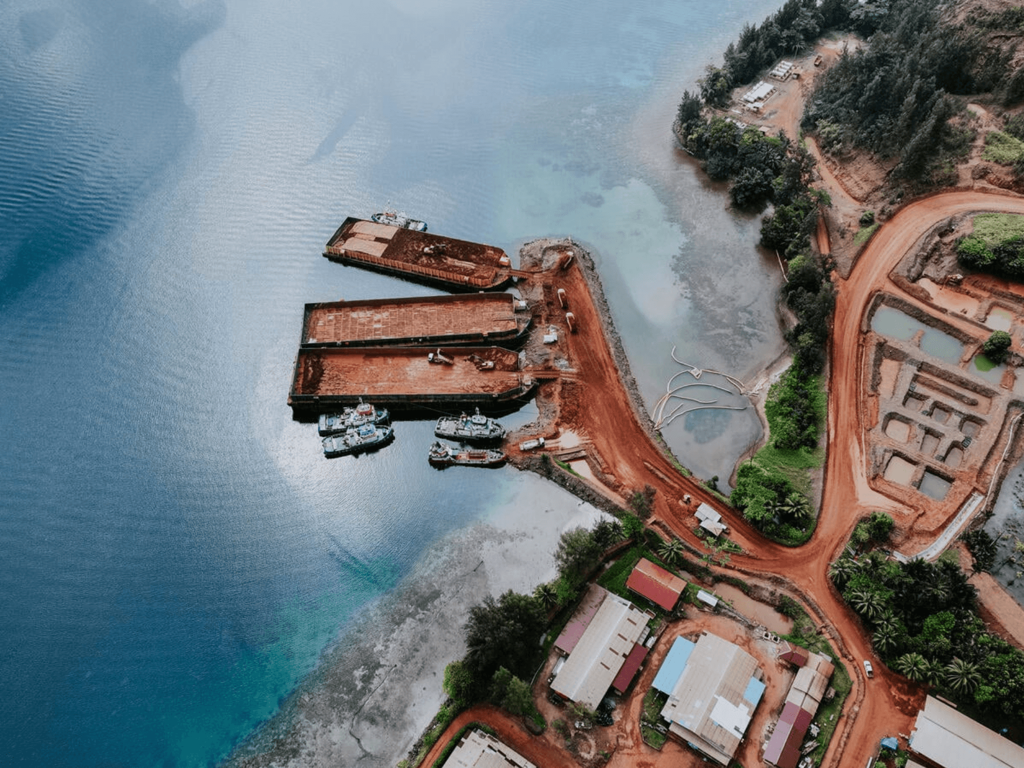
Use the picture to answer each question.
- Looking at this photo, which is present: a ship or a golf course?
ship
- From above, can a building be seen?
Yes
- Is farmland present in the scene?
No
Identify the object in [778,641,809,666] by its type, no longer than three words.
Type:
building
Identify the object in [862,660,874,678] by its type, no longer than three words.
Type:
vehicle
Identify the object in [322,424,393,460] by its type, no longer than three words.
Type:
boat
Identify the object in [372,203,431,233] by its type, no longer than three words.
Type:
boat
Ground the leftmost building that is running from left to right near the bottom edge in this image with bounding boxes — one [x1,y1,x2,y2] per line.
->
[444,730,536,768]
